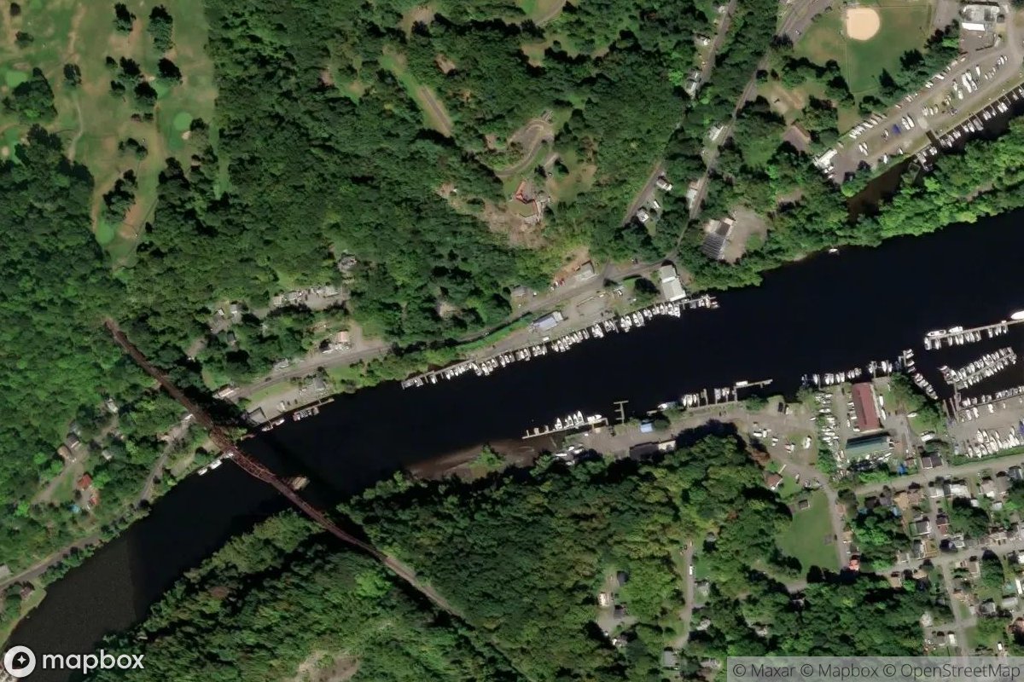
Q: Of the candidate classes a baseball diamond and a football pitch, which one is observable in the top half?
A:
baseball diamond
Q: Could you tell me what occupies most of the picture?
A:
trees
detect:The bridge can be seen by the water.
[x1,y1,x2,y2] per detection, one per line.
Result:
[103,320,387,559]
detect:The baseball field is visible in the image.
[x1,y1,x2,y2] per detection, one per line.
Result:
[839,1,930,92]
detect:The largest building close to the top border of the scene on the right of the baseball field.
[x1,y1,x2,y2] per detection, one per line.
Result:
[962,5,1001,21]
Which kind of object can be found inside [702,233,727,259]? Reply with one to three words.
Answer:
building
